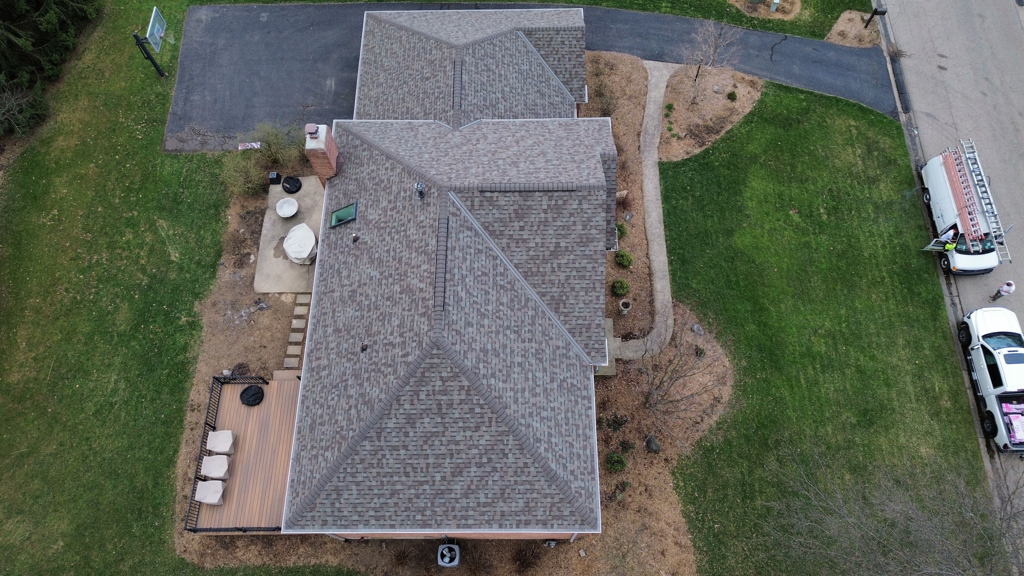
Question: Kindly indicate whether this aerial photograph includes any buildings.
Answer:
Yes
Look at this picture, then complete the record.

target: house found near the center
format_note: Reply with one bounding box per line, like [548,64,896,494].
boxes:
[281,9,618,545]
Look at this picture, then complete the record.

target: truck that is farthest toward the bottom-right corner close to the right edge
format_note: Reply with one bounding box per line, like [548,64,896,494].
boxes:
[957,309,1024,461]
